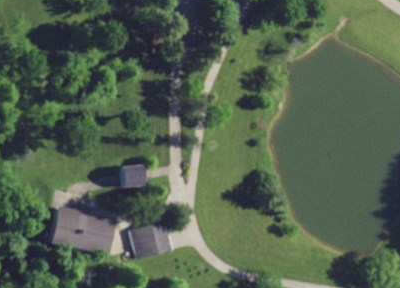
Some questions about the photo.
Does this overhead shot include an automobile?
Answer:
No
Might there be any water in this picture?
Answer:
Yes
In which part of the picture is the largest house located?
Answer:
bottom left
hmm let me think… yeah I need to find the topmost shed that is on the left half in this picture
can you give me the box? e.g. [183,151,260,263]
[119,164,144,188]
